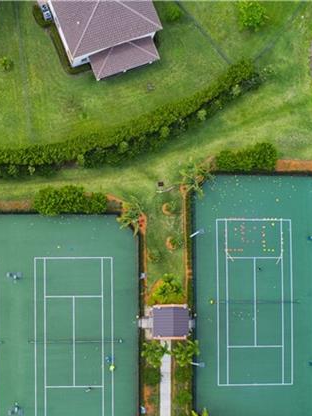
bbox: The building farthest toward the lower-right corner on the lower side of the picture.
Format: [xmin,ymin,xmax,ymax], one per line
[149,304,189,341]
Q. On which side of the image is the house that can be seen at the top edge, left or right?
left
